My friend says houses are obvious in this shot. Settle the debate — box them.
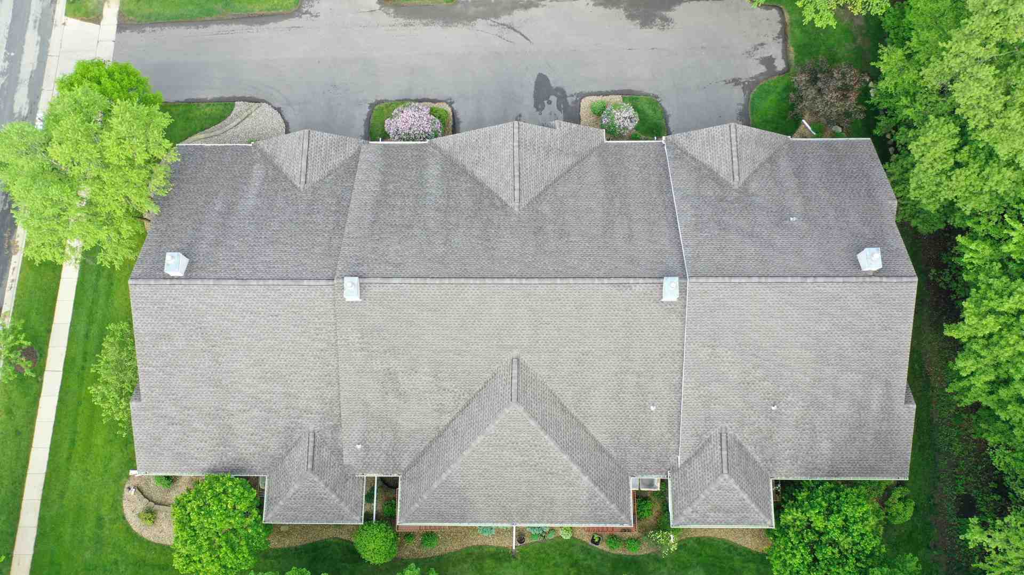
[129,119,918,553]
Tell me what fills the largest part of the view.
buildings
